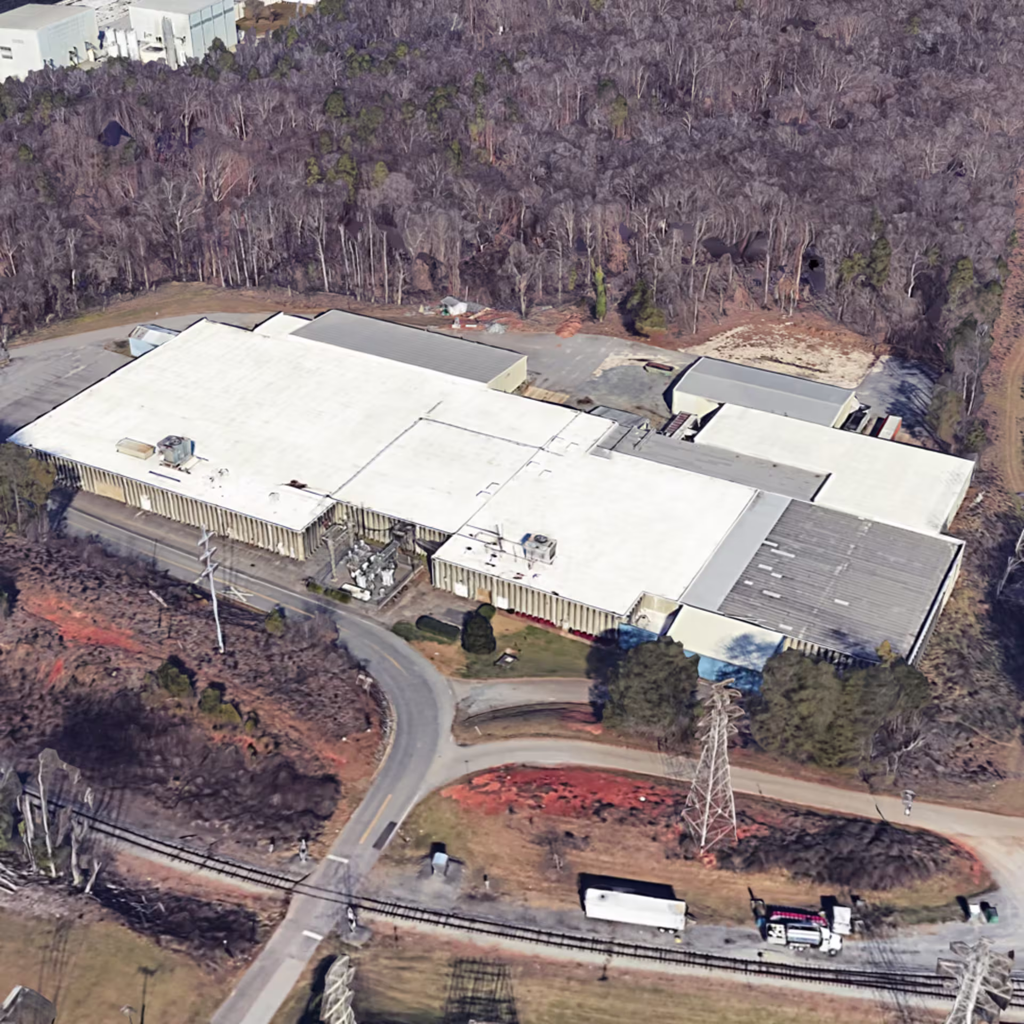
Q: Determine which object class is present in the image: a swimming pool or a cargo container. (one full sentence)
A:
Visible in the photo is a cargo container.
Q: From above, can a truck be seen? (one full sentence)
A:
Yes, the picture does show a truck.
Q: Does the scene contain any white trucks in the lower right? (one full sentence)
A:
Yes, looking in the lower right, one can make out a white truck.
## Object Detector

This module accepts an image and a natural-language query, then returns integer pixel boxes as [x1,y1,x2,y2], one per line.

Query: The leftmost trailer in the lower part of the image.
[586,886,696,932]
